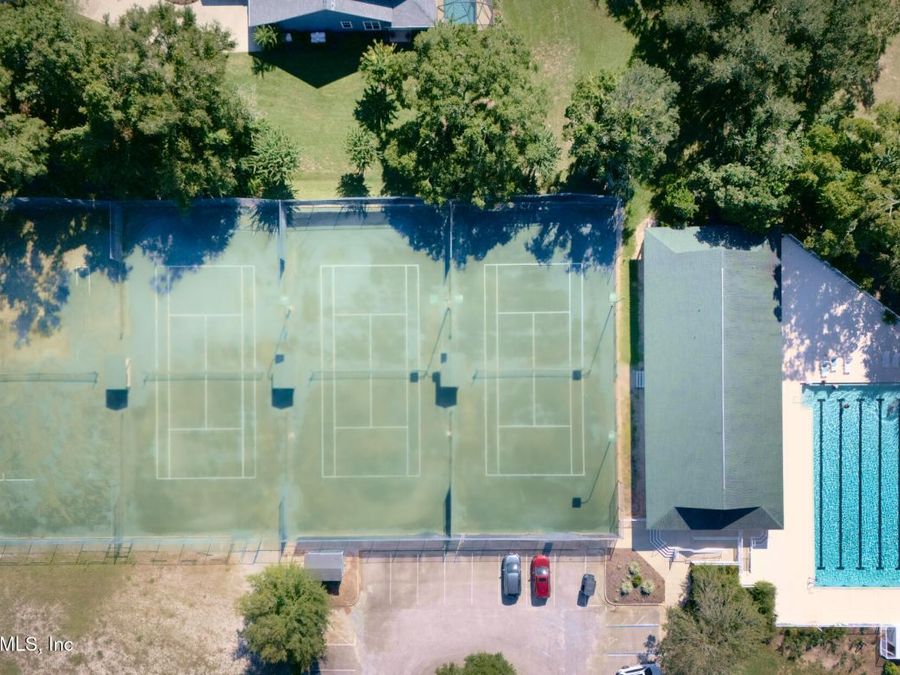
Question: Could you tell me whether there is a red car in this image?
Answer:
Yes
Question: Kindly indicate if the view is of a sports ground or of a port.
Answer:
sports ground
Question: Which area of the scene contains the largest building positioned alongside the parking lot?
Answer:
right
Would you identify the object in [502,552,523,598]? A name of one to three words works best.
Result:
car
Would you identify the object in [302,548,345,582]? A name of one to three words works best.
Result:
shed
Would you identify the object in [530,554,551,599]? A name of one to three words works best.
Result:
car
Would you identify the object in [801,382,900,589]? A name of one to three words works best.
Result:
swimming pool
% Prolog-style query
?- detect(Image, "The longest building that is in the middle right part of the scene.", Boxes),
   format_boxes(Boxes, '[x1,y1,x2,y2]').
[642,228,789,530]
